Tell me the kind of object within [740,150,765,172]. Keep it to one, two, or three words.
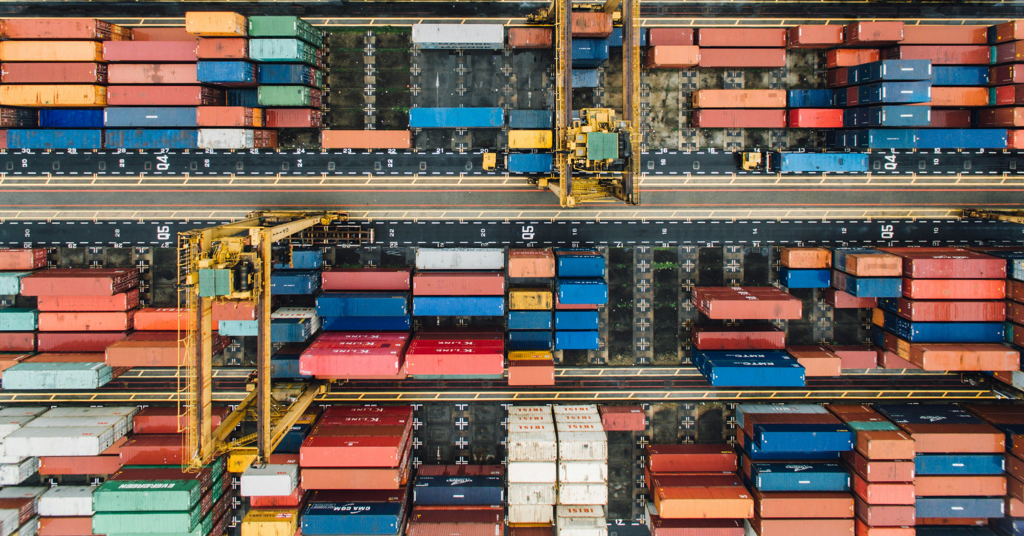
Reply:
work vehicle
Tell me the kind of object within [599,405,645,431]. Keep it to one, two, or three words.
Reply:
shipping container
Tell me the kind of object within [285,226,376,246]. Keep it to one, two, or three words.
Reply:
trailer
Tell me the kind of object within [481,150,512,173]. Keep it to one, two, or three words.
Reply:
work vehicle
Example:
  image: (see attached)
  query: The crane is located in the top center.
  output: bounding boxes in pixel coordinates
[519,0,646,208]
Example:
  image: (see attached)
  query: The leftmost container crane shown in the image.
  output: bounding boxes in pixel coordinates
[166,207,350,473]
